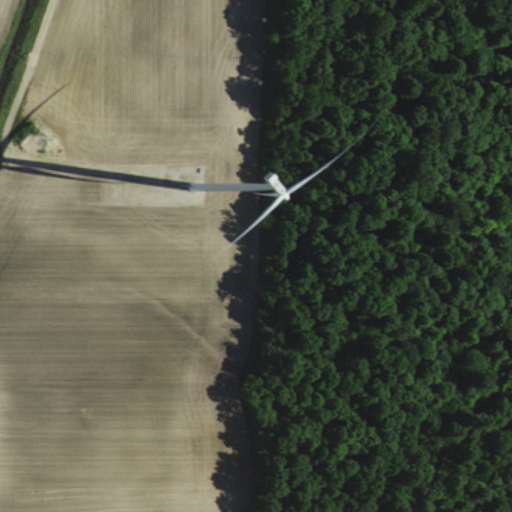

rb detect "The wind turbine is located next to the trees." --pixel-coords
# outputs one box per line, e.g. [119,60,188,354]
[185,116,379,250]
